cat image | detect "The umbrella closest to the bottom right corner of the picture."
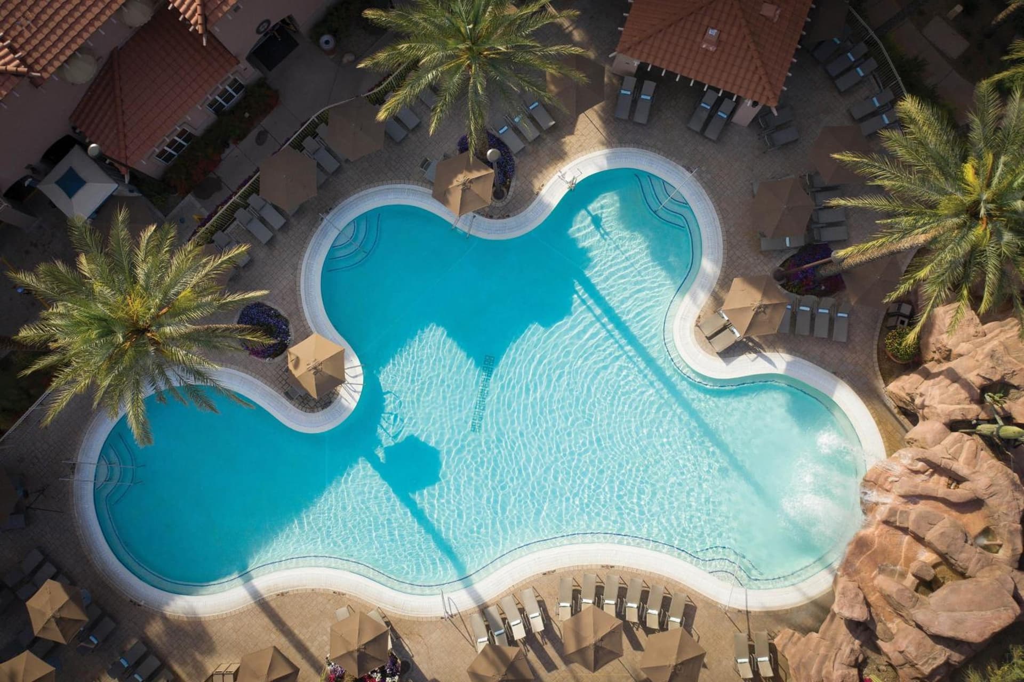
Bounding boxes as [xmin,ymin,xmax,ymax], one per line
[637,624,707,682]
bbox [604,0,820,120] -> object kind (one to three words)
building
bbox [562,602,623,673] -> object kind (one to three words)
umbrella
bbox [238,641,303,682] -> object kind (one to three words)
umbrella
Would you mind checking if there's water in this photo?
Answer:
Yes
